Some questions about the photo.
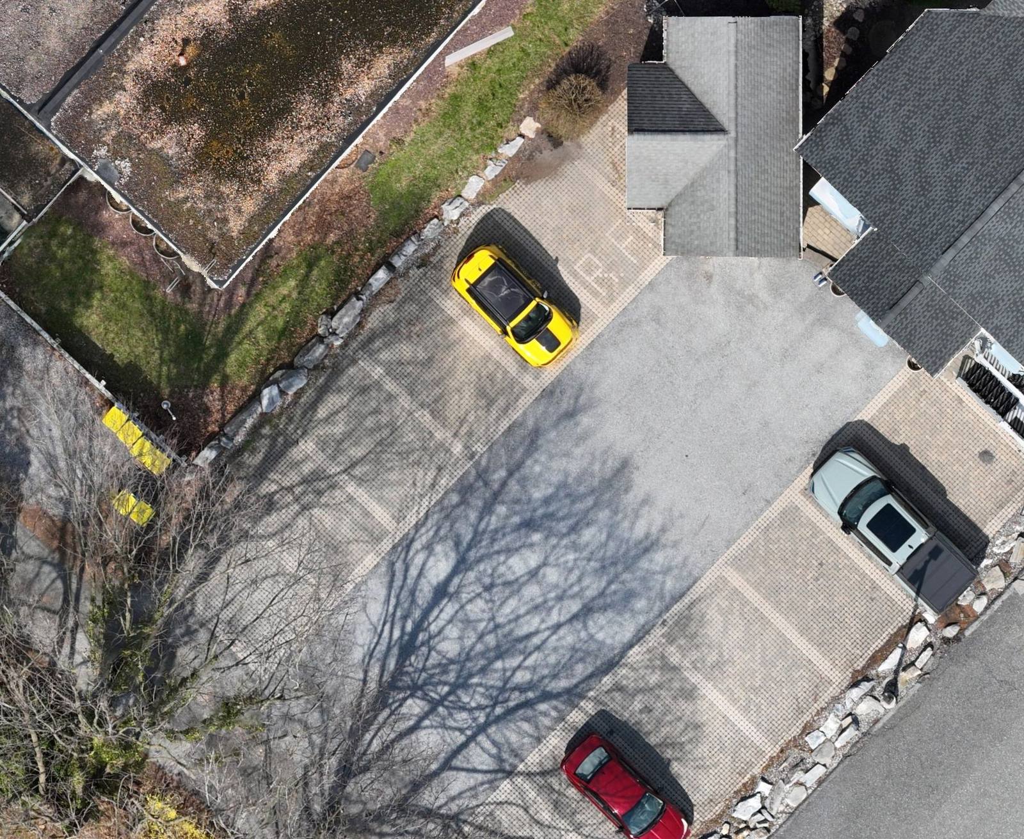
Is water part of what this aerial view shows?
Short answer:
No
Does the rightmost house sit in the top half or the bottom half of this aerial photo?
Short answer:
top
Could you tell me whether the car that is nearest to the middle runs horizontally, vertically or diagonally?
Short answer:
diagonally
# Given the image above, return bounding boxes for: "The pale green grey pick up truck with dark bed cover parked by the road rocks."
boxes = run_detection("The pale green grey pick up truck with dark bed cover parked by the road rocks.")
[808,441,984,617]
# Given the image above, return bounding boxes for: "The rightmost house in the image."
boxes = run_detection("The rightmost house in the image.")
[794,0,1024,379]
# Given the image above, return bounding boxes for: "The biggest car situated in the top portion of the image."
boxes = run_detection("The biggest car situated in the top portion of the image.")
[451,238,579,371]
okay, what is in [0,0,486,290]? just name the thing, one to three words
building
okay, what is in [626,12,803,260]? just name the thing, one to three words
building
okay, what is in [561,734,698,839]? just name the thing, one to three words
car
